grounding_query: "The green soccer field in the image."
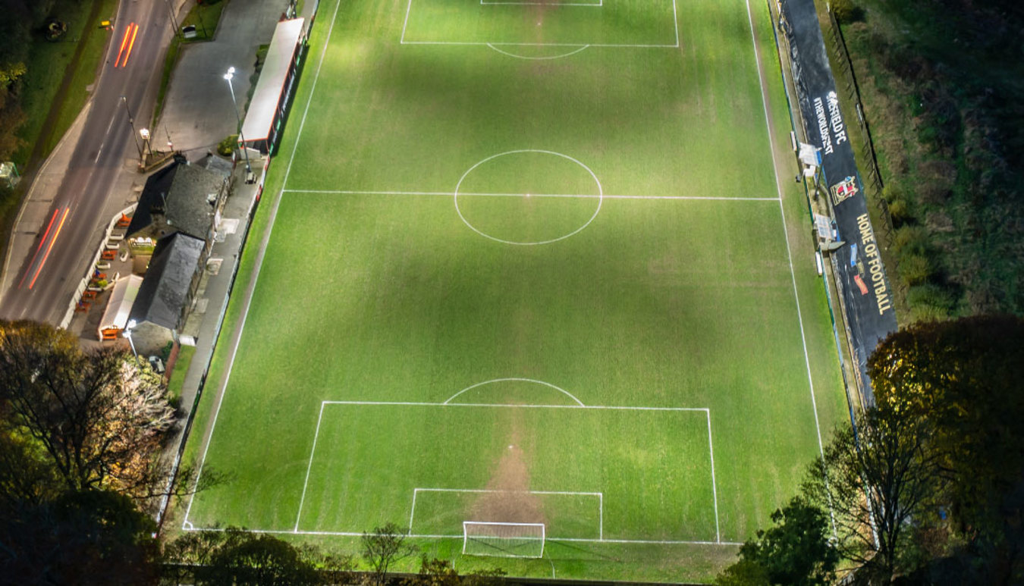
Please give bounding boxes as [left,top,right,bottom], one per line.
[144,0,878,586]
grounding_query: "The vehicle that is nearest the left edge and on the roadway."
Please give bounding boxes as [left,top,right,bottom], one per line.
[36,223,61,248]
